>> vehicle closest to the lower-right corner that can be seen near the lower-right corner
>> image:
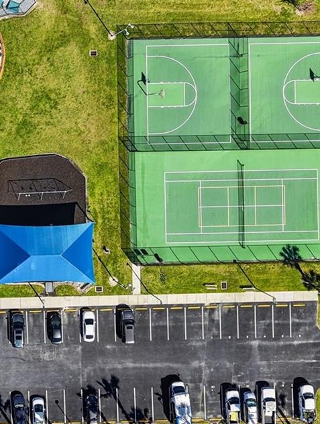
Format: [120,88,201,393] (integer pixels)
[297,383,316,424]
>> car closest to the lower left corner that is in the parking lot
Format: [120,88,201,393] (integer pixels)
[12,394,26,424]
